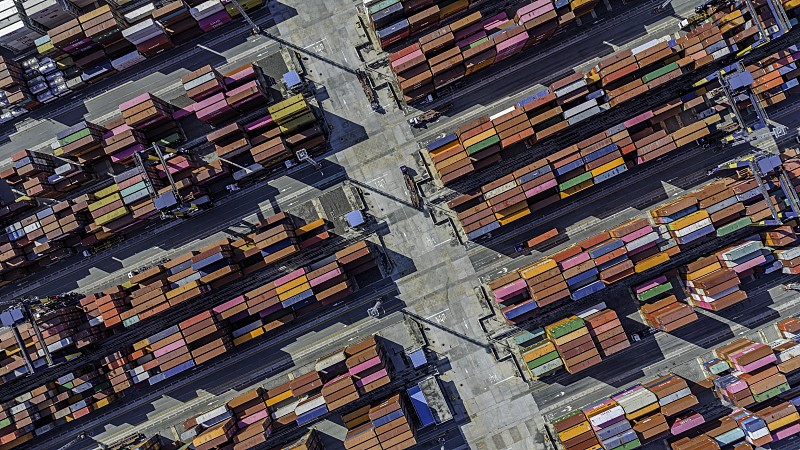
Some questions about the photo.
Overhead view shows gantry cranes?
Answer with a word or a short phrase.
Yes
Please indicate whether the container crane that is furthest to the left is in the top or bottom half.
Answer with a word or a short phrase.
bottom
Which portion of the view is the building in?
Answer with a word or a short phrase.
bottom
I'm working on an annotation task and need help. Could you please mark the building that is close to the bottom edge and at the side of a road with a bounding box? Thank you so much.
[408,376,452,428]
